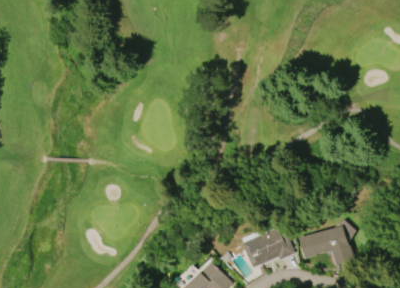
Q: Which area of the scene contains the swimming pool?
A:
bottom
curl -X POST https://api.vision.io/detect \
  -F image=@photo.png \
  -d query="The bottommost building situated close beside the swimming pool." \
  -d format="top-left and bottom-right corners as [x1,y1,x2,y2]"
[177,258,236,288]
